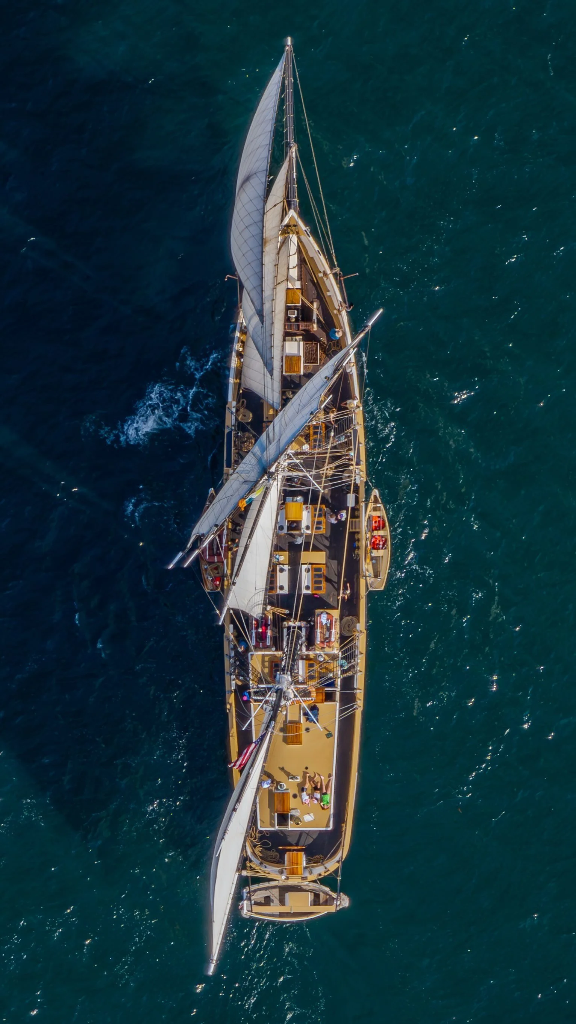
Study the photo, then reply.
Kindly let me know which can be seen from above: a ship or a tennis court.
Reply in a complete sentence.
It is a ship that can be seen here.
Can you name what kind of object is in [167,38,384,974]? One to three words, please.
ship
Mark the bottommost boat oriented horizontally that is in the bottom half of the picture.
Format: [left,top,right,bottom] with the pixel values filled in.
[238,881,337,921]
